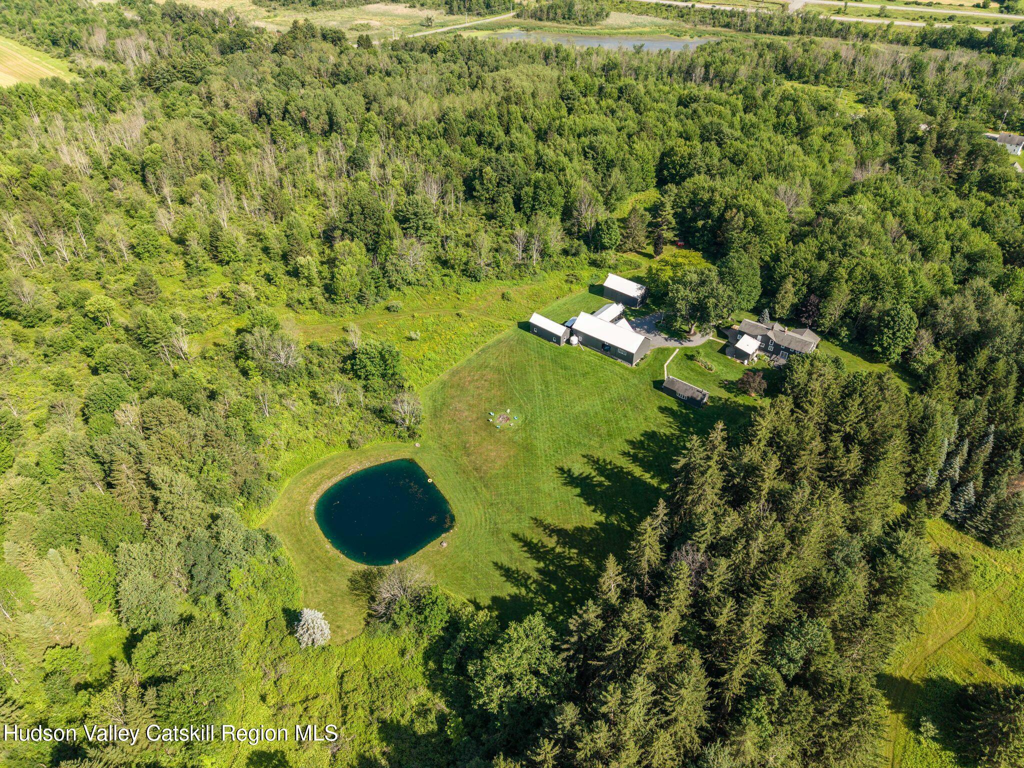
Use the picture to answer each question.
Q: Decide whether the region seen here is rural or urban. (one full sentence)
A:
The area is rural.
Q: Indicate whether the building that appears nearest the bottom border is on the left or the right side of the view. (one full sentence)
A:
The building that appears nearest the bottom border is on the right side of the image.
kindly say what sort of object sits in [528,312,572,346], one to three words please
barn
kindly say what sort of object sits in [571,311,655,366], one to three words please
barn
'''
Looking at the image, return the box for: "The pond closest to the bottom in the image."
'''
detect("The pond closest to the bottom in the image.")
[314,458,455,565]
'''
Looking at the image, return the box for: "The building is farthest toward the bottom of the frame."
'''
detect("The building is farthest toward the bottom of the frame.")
[661,373,715,409]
